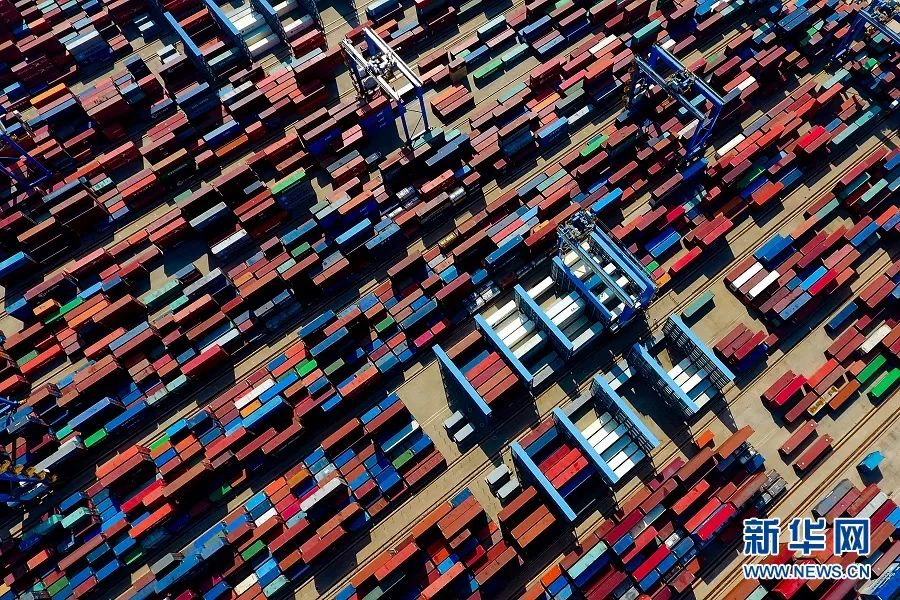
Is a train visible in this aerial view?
No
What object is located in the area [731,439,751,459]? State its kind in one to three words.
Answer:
vehicle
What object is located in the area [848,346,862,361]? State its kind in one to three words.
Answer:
vehicle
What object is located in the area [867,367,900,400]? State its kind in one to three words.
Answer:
shipping container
